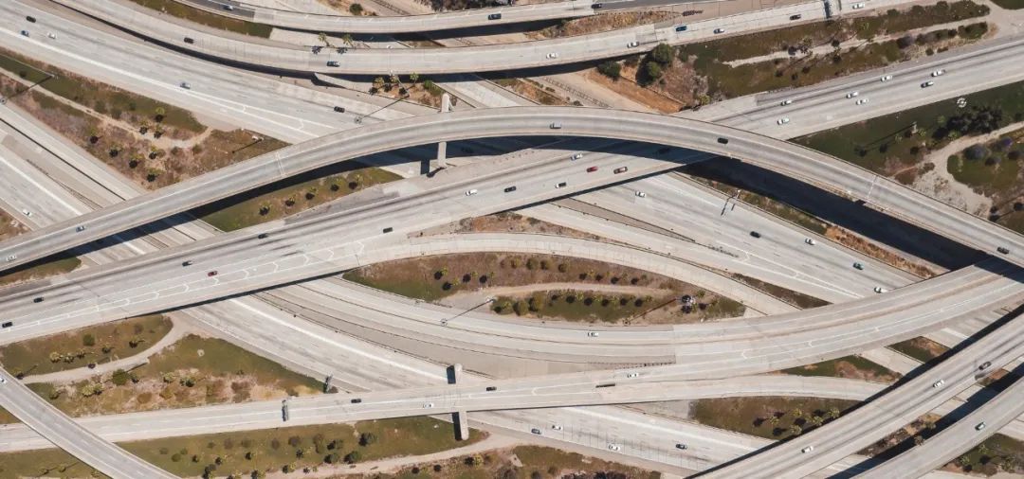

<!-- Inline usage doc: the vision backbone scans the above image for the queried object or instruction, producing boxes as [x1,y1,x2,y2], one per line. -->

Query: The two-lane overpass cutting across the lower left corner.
[0,364,181,479]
